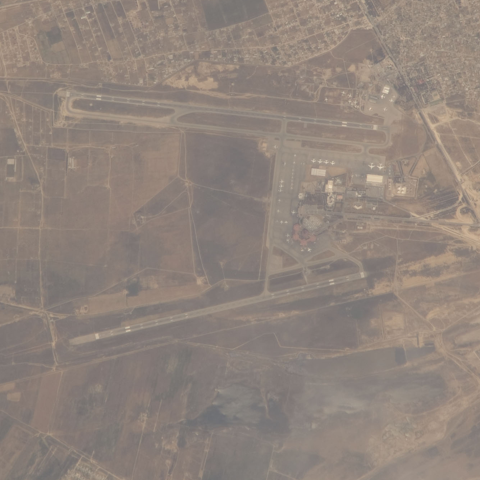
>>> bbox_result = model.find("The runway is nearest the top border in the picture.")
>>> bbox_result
[58,90,388,132]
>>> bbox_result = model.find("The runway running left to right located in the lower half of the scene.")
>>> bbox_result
[69,272,367,345]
